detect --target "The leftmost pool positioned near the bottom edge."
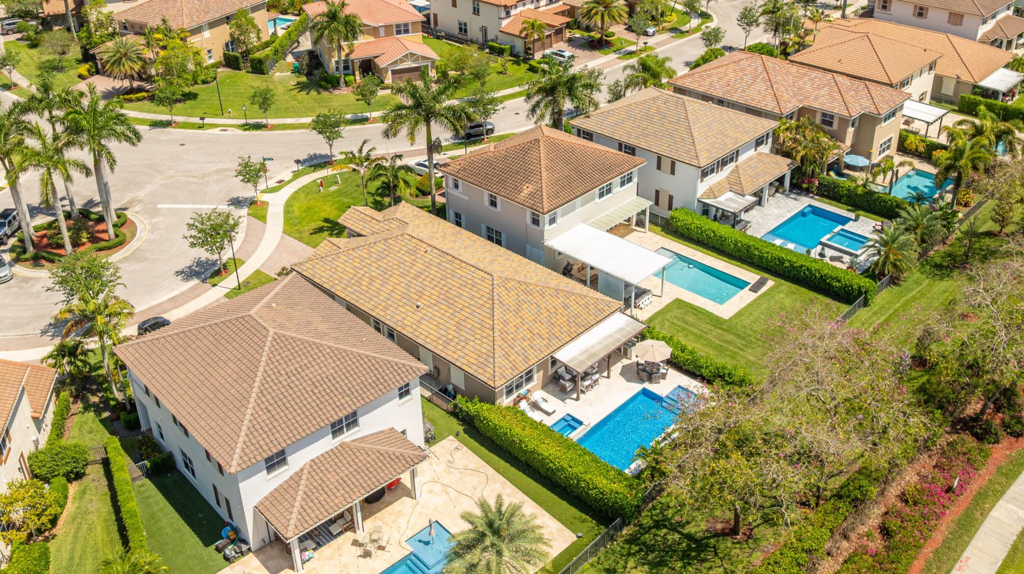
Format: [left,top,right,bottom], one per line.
[383,521,478,574]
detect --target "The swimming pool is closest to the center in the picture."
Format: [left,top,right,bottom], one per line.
[552,413,584,435]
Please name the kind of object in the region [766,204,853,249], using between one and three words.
swimming pool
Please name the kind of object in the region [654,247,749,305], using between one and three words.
swimming pool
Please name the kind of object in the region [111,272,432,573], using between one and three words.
house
